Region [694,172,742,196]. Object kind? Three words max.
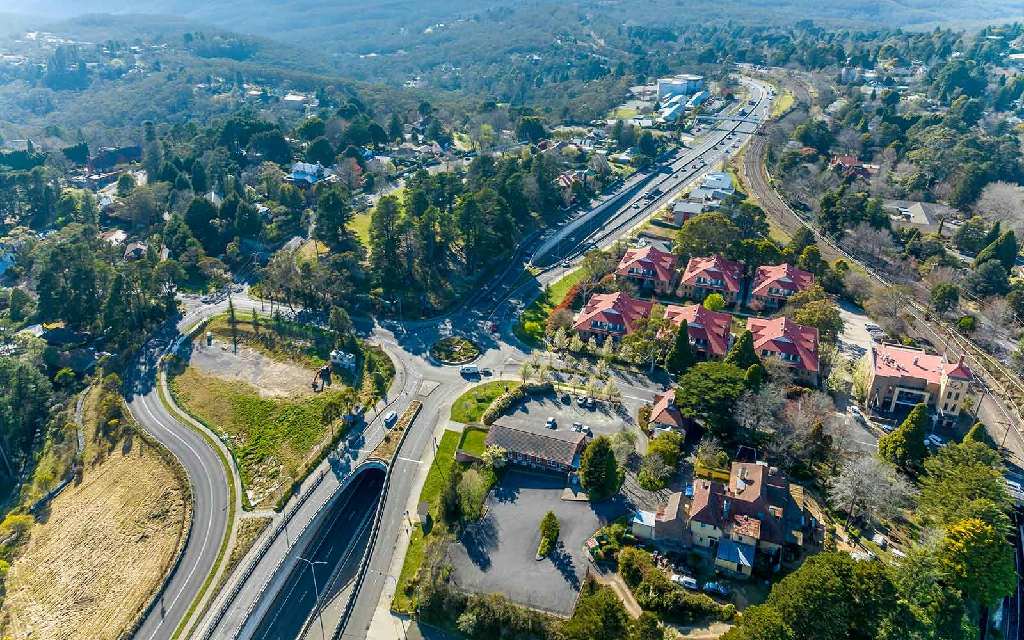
building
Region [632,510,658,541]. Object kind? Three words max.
shed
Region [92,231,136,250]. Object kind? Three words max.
house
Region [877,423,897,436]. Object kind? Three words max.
vehicle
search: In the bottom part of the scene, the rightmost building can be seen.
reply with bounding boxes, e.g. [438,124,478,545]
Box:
[855,345,972,427]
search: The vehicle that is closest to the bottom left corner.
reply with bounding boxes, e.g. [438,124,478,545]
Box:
[303,370,329,387]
